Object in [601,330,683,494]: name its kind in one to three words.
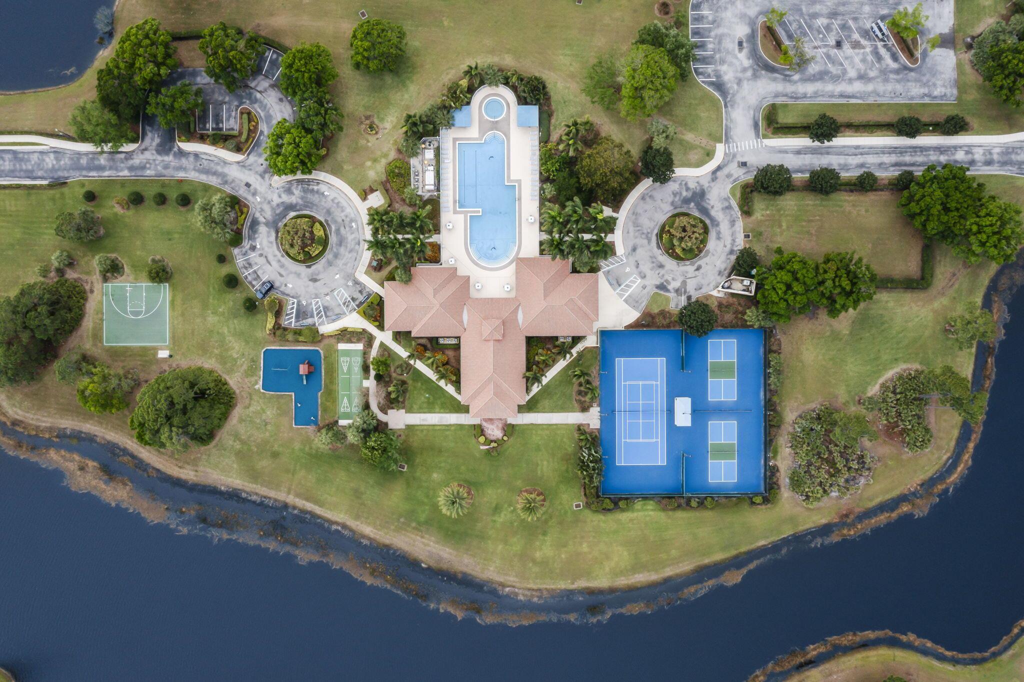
tennis court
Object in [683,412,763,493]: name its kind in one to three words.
sports court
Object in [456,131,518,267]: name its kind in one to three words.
swimming pool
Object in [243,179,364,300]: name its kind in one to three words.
roundabout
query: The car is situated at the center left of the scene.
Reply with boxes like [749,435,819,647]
[255,280,275,299]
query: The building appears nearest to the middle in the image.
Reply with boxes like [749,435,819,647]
[384,257,599,418]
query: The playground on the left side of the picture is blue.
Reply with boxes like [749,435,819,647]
[260,347,324,427]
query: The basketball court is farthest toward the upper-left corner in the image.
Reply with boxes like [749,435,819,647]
[103,283,169,346]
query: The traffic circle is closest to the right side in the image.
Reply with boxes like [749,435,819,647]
[623,176,742,297]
